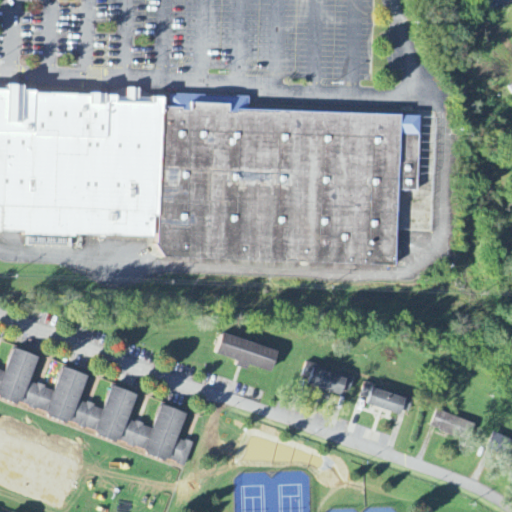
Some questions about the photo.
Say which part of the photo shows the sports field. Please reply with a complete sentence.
The sports field is located in the bottom left region of the scene.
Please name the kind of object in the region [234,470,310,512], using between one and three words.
tennis court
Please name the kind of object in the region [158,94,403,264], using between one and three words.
building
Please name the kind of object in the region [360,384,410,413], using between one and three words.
house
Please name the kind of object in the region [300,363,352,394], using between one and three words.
house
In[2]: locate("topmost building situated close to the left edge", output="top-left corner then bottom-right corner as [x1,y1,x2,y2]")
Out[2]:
[0,82,166,248]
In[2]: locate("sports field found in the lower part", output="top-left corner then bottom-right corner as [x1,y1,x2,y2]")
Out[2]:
[0,426,86,510]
